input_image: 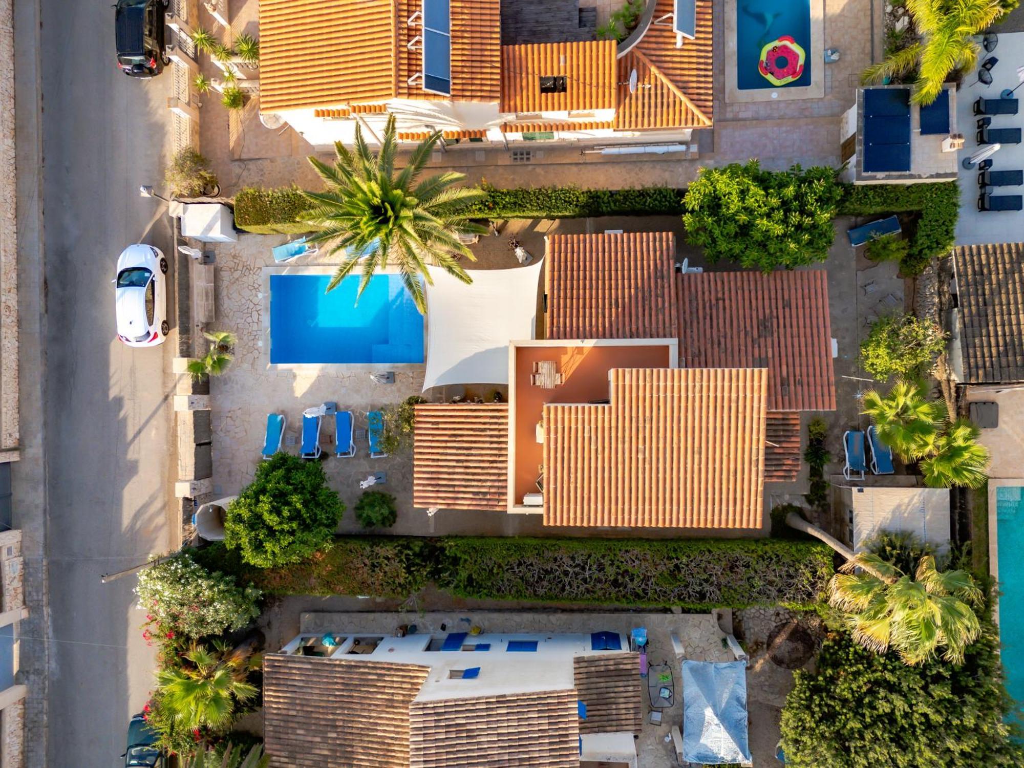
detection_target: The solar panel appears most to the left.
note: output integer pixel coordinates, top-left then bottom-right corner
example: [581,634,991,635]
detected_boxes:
[407,0,451,98]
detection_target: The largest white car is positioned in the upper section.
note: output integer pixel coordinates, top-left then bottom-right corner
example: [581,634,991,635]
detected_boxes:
[109,244,171,347]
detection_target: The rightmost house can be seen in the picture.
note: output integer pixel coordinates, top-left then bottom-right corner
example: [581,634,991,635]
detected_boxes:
[925,244,1024,393]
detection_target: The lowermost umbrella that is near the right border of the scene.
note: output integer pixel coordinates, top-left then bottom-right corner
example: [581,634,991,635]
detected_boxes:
[961,145,1001,170]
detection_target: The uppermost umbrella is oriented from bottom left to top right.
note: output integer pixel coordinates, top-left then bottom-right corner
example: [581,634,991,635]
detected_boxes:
[999,68,1024,98]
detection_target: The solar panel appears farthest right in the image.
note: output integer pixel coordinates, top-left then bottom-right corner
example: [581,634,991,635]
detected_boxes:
[919,89,950,135]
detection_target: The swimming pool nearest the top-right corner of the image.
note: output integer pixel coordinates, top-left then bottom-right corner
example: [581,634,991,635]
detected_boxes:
[727,0,825,100]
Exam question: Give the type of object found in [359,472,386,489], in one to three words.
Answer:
umbrella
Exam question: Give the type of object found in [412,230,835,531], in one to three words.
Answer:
house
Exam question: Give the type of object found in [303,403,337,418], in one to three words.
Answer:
umbrella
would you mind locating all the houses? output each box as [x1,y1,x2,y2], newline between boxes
[261,630,644,768]
[256,0,715,156]
[412,230,835,531]
[925,244,1024,393]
